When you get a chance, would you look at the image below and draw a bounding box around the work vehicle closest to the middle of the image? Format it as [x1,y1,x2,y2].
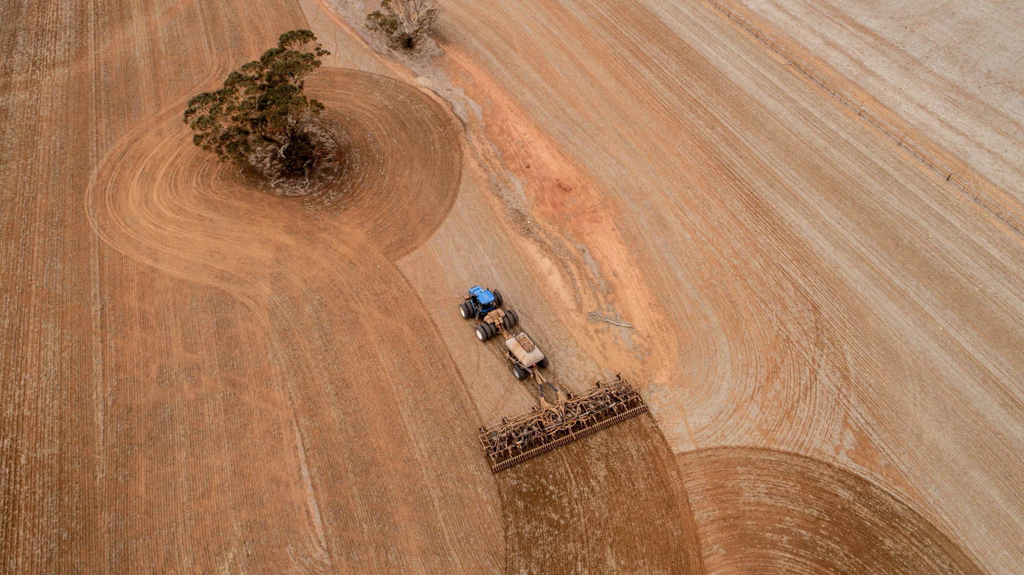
[458,286,522,343]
